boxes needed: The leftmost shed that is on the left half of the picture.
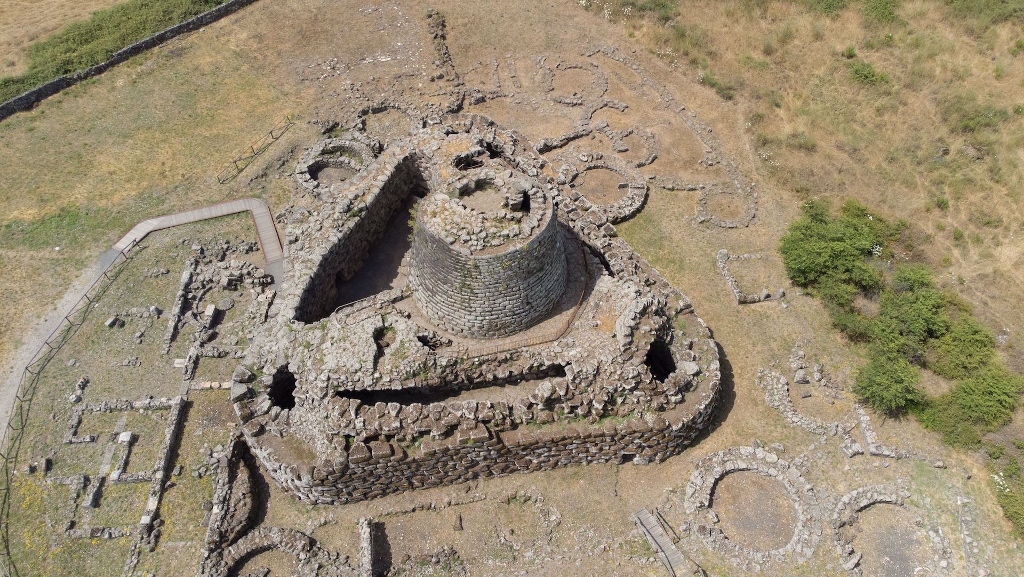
[215,523,325,577]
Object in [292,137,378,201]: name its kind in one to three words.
shed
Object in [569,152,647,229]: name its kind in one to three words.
shed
